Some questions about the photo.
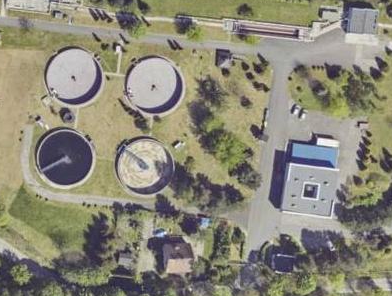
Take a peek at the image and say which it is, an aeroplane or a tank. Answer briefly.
tank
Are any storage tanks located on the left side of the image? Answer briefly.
Yes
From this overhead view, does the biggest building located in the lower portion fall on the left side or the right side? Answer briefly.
right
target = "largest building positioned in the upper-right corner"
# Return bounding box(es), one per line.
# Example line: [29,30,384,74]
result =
[349,8,379,35]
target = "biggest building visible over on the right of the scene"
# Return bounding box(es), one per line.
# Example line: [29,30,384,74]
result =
[283,137,340,220]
